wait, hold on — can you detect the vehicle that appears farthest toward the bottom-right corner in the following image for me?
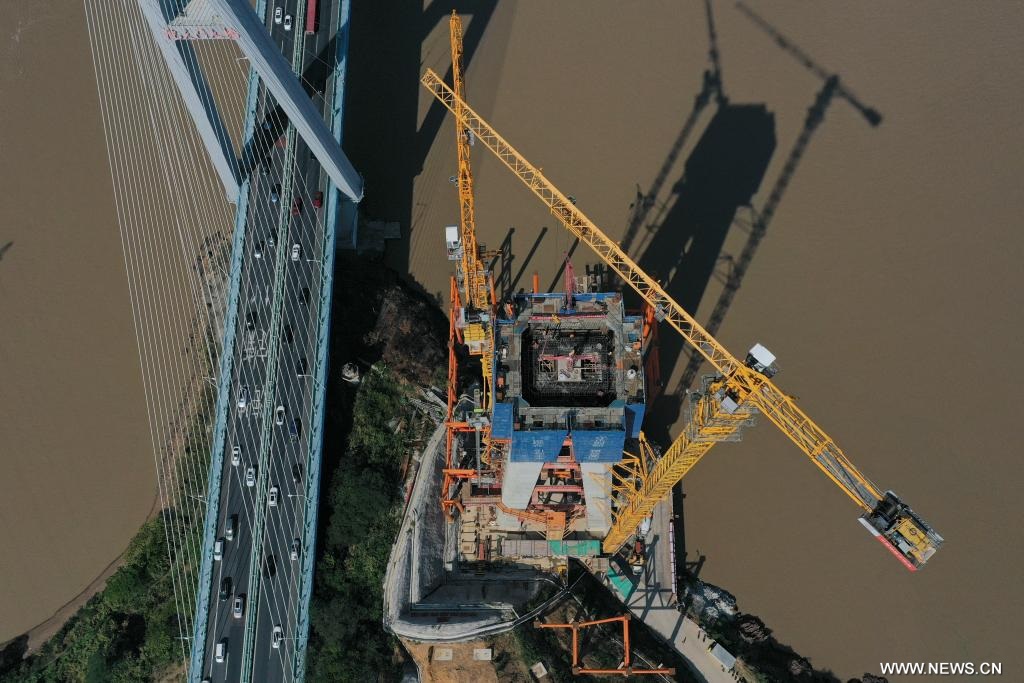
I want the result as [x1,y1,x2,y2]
[703,641,739,673]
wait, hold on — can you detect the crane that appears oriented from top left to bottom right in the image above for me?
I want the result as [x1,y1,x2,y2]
[427,66,949,575]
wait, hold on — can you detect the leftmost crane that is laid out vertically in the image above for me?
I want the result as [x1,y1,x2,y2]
[445,9,515,491]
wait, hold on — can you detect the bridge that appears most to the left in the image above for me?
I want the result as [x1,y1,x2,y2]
[81,0,413,683]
